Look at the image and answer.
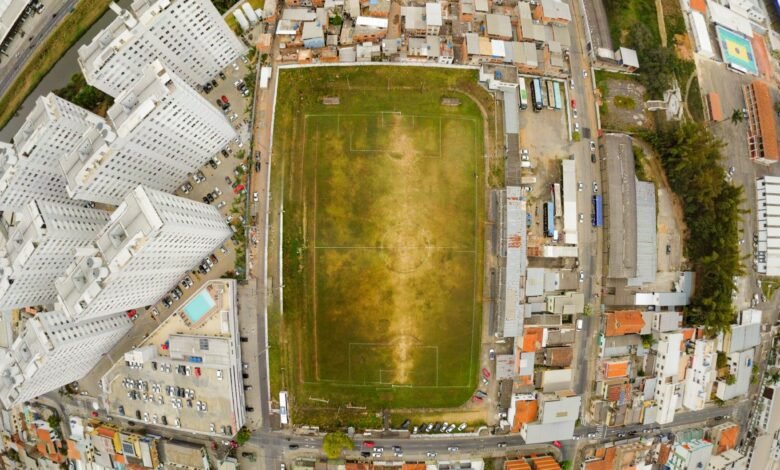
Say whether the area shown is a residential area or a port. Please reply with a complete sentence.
It's a residential area.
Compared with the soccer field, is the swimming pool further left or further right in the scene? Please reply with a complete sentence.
It is on the left side of the soccer field that the swimming pool is positioned.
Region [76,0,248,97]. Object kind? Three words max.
building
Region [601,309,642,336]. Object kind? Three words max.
house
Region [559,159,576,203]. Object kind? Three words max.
shed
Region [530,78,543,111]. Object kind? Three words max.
vehicle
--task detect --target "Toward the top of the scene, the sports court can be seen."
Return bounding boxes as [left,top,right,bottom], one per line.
[718,25,762,74]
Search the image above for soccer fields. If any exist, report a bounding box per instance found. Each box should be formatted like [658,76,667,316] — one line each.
[268,66,497,432]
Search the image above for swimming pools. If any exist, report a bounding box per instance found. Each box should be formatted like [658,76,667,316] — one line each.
[177,282,222,328]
